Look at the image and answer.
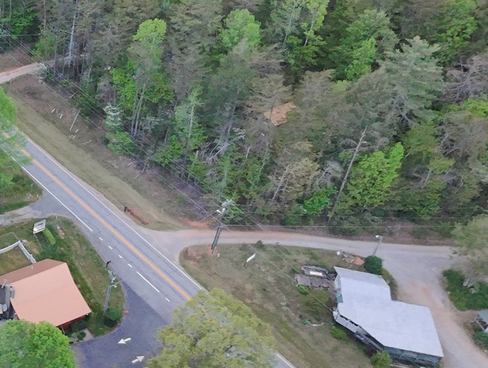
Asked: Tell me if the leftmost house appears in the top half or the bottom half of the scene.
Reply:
bottom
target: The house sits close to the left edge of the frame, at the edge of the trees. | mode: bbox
[0,261,91,337]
